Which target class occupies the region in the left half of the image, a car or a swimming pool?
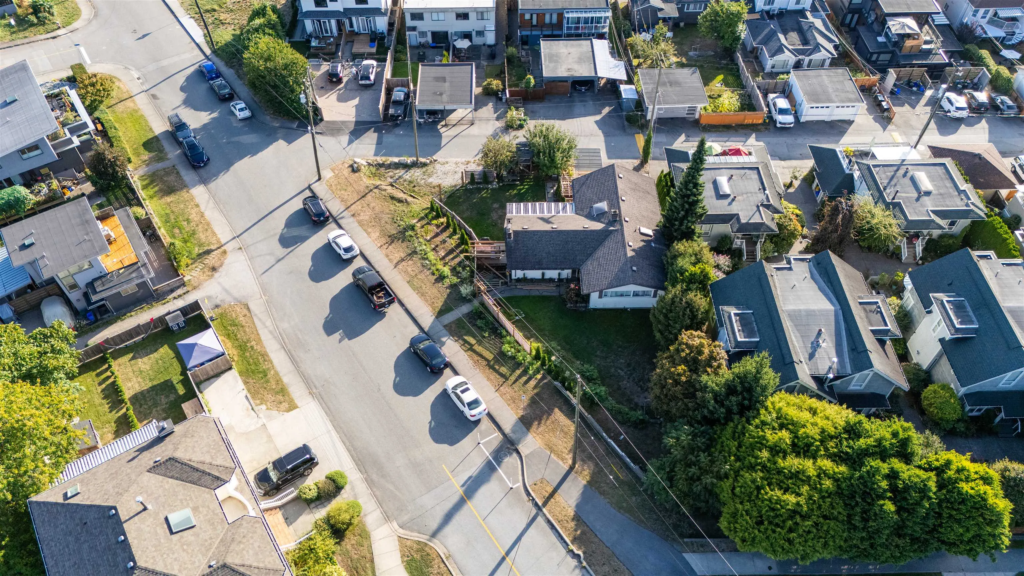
car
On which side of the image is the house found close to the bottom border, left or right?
left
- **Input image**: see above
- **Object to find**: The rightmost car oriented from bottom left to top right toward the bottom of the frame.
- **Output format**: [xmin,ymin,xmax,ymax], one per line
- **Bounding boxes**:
[250,443,325,500]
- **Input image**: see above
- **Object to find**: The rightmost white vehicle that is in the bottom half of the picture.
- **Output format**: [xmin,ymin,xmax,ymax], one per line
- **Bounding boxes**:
[443,371,489,425]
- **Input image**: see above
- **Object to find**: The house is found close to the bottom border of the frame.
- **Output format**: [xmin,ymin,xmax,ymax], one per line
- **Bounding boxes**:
[26,413,296,576]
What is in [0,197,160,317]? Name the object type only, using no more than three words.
house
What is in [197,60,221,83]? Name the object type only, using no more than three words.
car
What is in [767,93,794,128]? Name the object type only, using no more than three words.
car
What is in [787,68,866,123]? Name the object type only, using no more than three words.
building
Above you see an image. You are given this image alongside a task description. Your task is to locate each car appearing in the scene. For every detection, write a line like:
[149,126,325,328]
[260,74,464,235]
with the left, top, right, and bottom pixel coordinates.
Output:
[574,79,591,93]
[209,79,234,103]
[250,443,325,500]
[229,101,252,122]
[166,109,195,144]
[938,93,967,118]
[197,60,221,83]
[328,59,346,82]
[767,93,794,128]
[443,371,489,425]
[299,192,330,227]
[359,62,377,86]
[988,92,1020,117]
[387,88,408,120]
[408,328,451,376]
[351,263,396,315]
[959,87,990,112]
[325,226,359,264]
